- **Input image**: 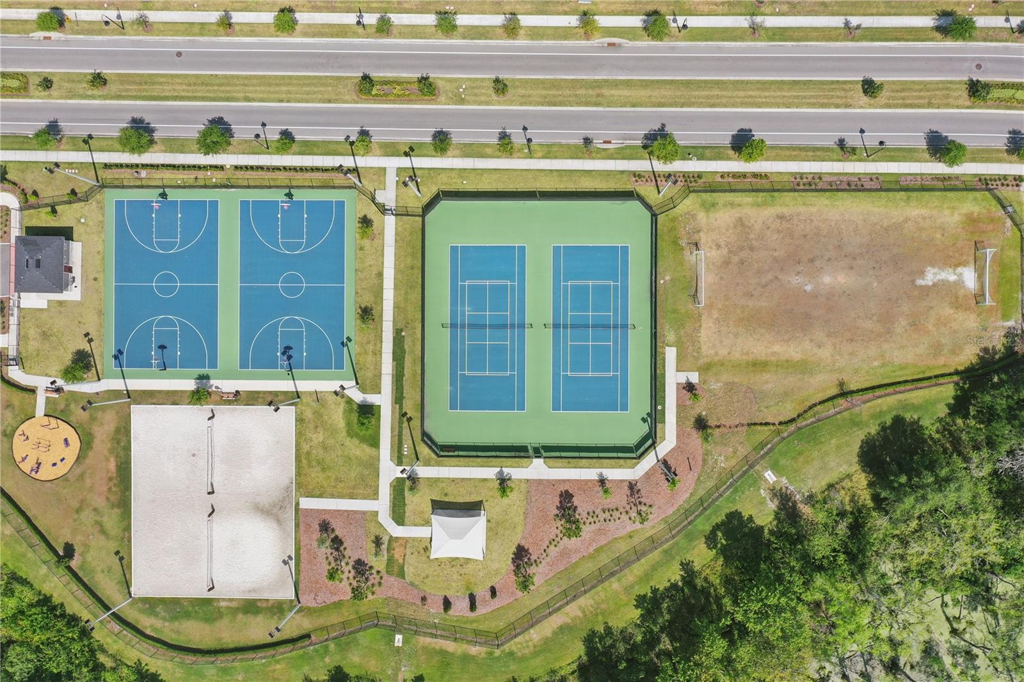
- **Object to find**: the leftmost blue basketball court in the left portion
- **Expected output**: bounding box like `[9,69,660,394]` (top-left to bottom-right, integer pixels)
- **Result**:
[104,188,229,380]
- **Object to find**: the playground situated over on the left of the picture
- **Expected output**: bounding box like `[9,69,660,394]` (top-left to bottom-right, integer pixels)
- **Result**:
[12,415,81,482]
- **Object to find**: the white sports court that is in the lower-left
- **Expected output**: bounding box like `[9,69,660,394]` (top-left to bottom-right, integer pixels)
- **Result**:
[130,405,295,600]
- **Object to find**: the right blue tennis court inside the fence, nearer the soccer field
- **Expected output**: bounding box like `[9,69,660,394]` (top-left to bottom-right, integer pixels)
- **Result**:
[539,201,652,455]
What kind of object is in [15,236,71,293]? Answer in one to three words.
building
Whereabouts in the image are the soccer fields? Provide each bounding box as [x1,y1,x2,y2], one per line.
[686,207,1009,374]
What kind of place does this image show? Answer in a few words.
sports ground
